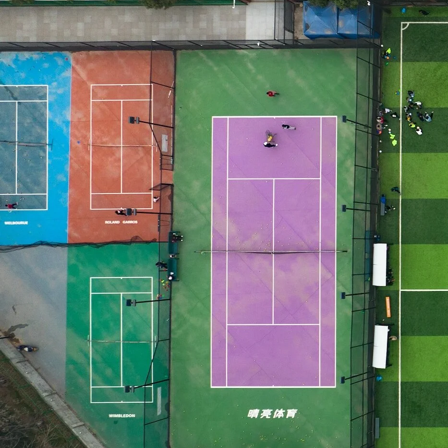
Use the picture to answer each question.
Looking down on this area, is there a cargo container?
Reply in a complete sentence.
No, I can't see a single cargo container in this photo.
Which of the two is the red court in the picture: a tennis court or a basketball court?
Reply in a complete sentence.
I'd identify the red court as a tennis court.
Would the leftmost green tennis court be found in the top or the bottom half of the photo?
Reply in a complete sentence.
The bottom half of the photo is where the leftmost green tennis court is.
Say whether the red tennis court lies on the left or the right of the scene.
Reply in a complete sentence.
The red tennis court sits on the left side.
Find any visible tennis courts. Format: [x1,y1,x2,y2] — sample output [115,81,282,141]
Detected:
[0,52,72,244]
[66,244,172,448]
[170,49,371,448]
[68,50,176,243]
